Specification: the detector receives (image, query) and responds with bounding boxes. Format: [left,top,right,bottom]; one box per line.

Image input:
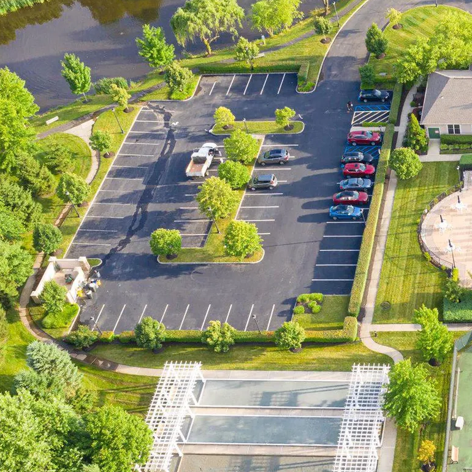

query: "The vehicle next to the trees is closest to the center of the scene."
[247,173,278,189]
